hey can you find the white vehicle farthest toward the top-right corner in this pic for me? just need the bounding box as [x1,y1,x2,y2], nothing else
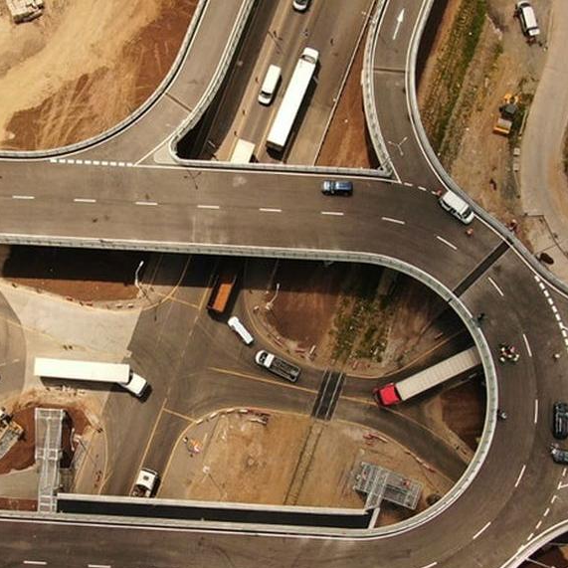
[514,5,542,38]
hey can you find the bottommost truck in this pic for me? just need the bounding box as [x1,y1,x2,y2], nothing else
[132,467,161,498]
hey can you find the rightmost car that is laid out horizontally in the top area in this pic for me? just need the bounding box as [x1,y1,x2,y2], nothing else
[320,180,352,196]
